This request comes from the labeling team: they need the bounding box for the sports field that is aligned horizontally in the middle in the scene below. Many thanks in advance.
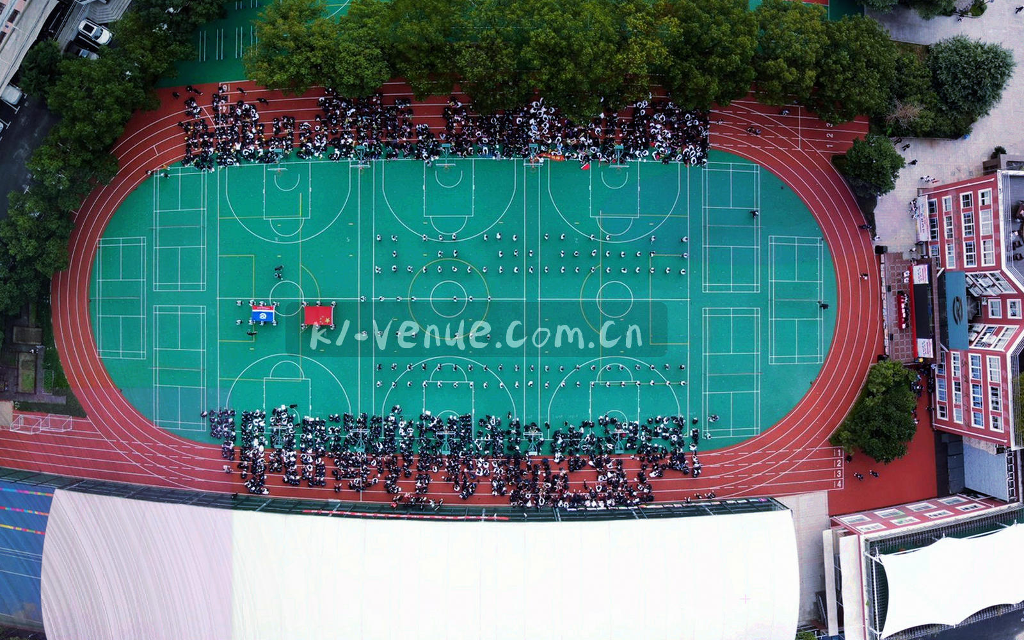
[89,141,838,457]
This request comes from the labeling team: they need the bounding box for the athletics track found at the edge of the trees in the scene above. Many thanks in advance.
[4,81,880,505]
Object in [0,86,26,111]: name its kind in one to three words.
car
